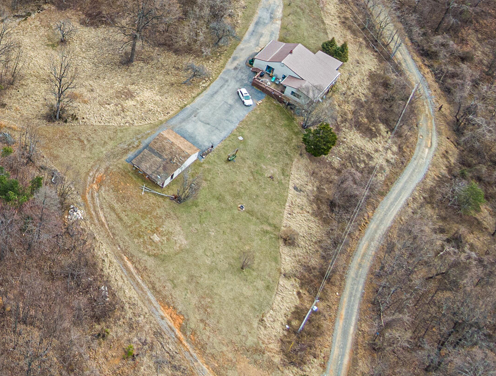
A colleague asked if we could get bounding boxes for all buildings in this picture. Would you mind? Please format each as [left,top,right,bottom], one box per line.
[249,38,345,111]
[132,127,201,191]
